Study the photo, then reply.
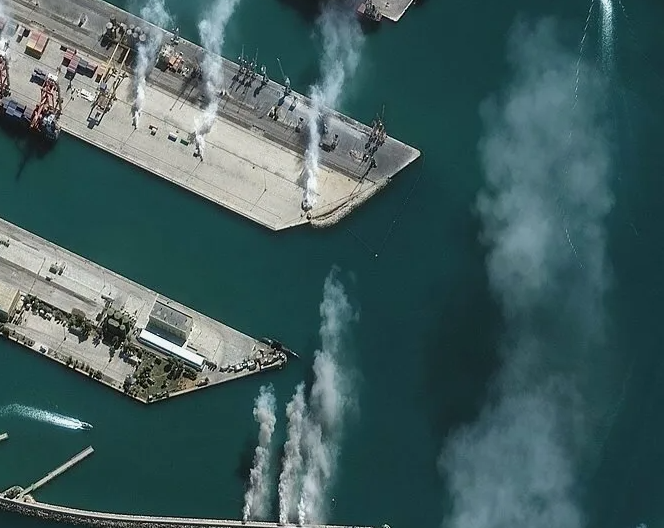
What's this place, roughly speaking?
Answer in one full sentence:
What you see here is a port.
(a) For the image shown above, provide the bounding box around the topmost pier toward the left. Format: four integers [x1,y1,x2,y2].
[0,0,420,231]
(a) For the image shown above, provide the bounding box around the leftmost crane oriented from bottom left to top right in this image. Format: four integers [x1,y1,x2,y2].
[21,74,62,134]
